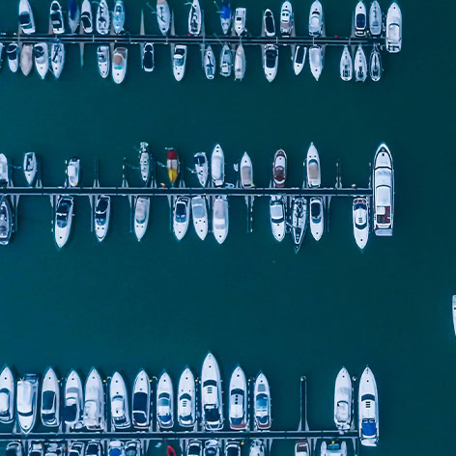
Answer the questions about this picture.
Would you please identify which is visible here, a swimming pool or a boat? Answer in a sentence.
Visible in the photo is a boat.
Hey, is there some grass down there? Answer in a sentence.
No, there is no grass in the image.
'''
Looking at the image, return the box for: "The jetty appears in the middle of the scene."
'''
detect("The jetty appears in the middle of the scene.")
[0,160,372,232]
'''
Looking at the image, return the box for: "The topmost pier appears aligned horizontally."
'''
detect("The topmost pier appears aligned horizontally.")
[0,7,384,72]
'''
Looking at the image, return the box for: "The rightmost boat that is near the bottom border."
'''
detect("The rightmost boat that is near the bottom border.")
[358,365,379,448]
